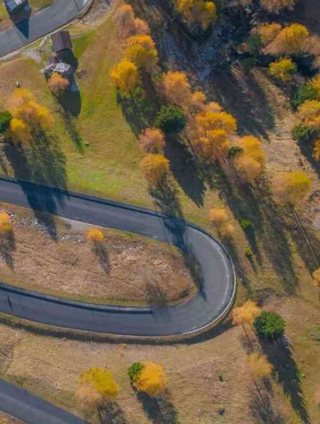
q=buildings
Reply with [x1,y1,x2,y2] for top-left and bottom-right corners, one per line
[52,32,73,59]
[1,0,29,19]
